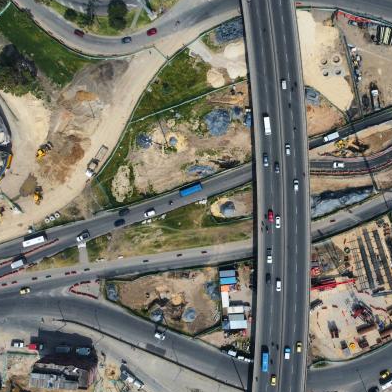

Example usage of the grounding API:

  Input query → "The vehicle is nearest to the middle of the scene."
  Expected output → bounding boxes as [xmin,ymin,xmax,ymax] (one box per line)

[178,182,202,196]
